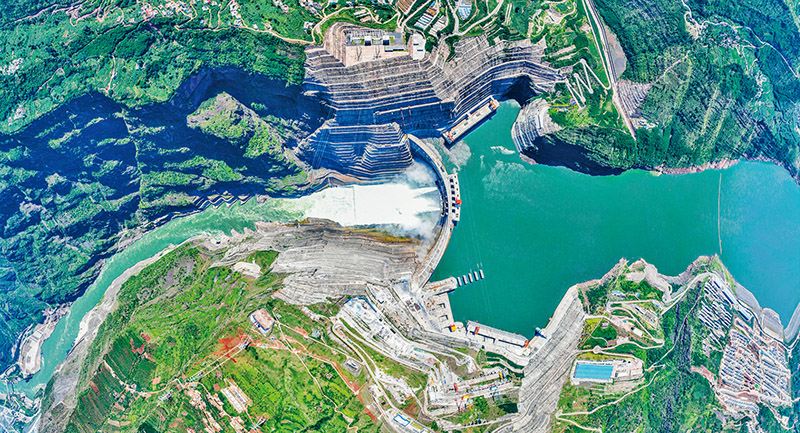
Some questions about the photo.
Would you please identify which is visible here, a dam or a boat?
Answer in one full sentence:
Visible in the photo is a dam.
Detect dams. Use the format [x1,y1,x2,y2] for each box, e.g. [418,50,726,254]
[402,130,460,292]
